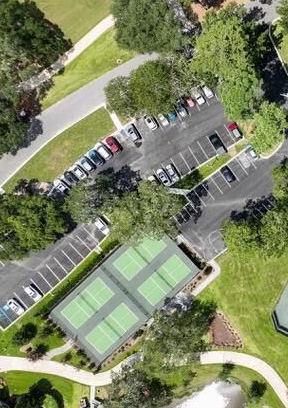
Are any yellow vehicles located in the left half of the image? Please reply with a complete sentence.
No, looking in the left half of the image, there is no yellow vehicle.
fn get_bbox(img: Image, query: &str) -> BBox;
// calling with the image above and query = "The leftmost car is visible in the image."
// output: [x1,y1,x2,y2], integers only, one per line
[9,298,26,315]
